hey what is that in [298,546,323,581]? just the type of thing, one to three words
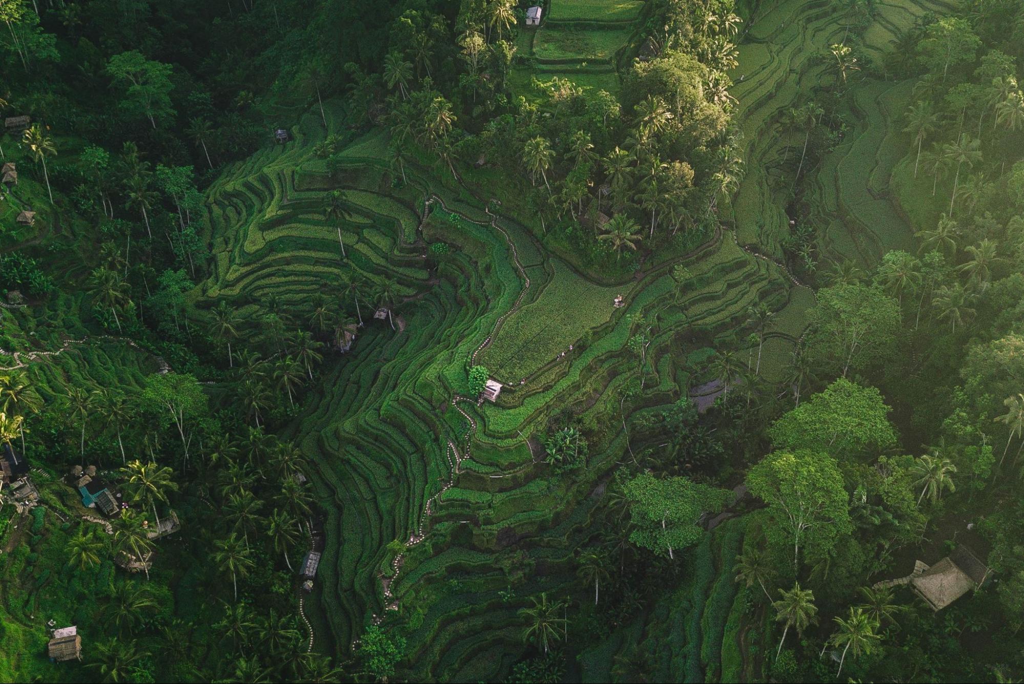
shed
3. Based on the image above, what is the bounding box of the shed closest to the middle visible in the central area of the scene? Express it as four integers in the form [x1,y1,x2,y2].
[472,384,504,412]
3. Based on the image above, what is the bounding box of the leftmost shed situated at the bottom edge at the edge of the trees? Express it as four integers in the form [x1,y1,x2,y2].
[44,626,81,658]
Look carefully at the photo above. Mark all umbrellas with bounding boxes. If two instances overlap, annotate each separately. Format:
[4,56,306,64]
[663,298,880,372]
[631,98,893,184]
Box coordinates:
[85,466,100,477]
[71,466,86,477]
